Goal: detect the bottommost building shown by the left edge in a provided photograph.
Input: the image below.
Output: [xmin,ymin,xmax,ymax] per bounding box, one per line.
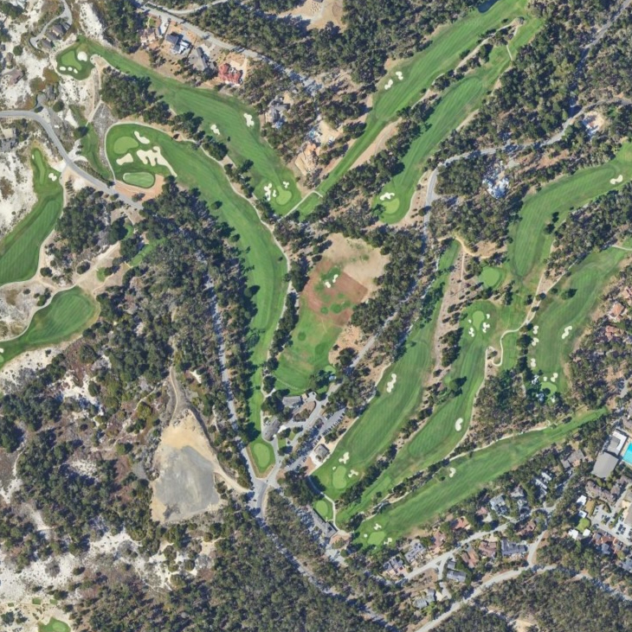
[0,126,17,150]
